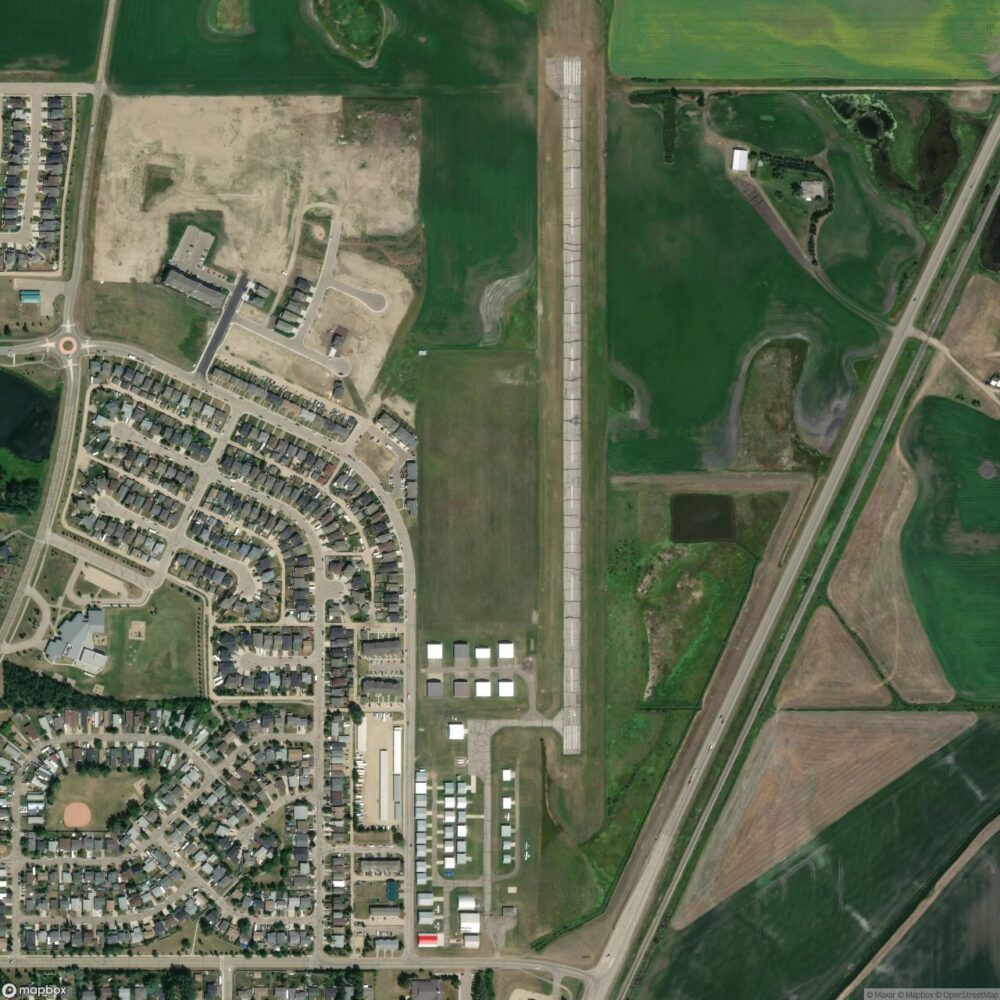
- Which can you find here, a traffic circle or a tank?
traffic circle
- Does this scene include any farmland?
Yes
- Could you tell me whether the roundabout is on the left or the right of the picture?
left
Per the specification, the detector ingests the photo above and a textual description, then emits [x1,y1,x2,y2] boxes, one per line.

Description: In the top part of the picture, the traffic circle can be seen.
[41,320,94,390]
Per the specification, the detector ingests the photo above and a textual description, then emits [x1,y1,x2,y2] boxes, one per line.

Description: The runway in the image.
[546,57,580,754]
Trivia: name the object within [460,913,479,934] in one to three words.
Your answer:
hangar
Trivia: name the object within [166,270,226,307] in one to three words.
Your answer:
building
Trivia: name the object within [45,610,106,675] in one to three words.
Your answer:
building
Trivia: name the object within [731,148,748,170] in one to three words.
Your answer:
barn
